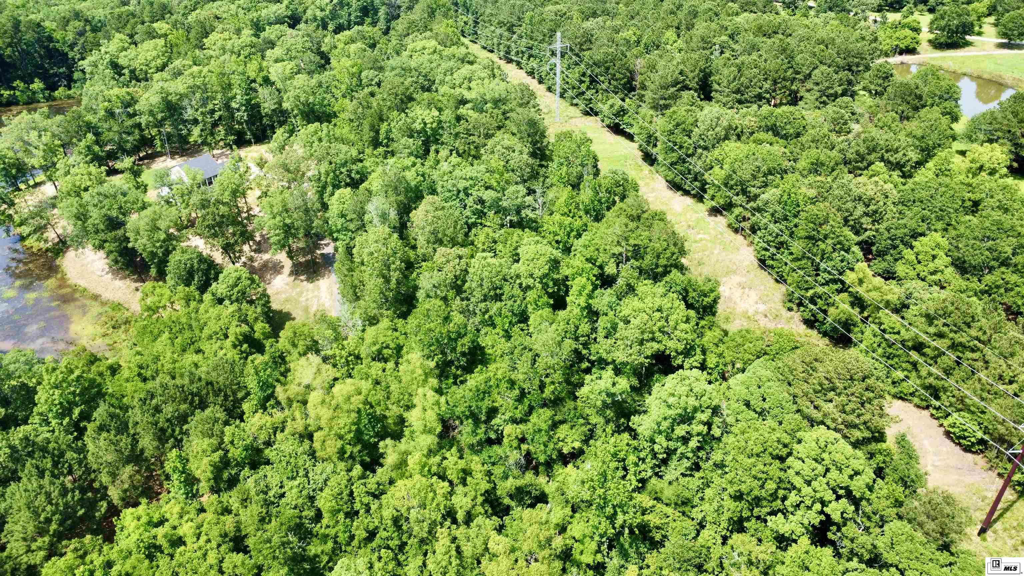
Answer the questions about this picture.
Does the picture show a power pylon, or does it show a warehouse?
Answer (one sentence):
The one in the frame is a power pylon.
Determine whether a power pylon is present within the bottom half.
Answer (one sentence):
No, I can find no power pylon within the bottom half.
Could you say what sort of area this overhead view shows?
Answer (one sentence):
It's a forest.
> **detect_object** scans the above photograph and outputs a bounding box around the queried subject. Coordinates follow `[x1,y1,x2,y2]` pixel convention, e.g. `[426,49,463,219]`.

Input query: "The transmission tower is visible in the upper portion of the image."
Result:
[547,32,571,123]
